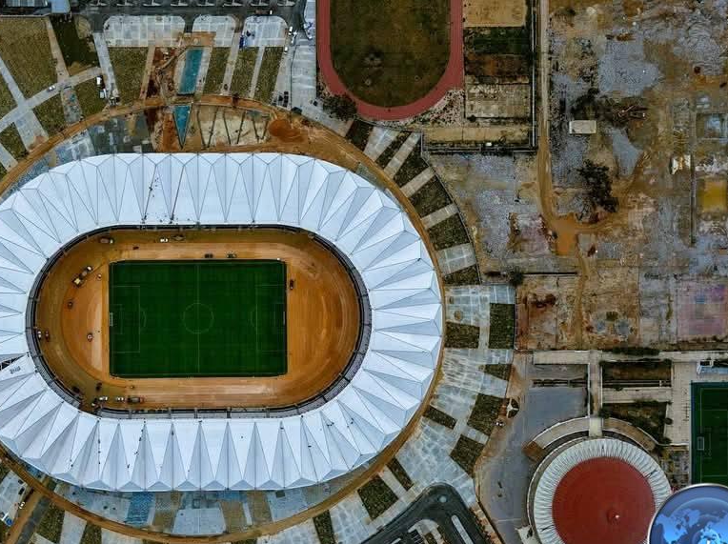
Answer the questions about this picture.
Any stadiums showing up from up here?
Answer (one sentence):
Yes, I can see a stadium in this picture.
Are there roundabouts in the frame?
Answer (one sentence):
No, no roundabout can be seen from above.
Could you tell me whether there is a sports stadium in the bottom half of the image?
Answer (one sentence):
Yes, a sports stadium shows up in the bottom half of the image.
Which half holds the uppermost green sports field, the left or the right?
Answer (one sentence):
It is on the left.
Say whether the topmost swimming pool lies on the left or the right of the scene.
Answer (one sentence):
It is on the left.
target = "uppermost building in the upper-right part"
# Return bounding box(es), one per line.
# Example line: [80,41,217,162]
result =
[567,120,596,135]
